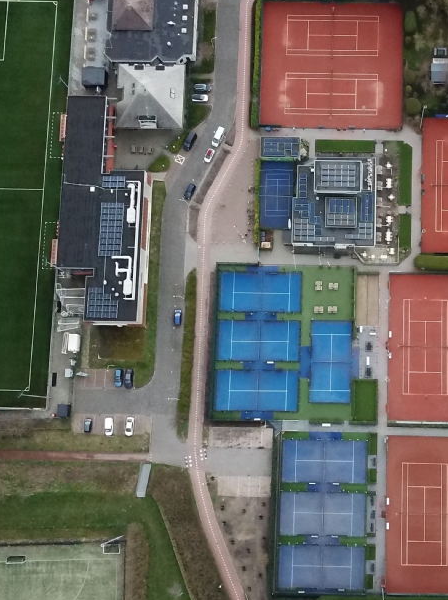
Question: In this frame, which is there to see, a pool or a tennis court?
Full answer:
Of the two, only a tennis court appears.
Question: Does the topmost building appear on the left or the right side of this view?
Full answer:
The topmost building is on the left side of the image.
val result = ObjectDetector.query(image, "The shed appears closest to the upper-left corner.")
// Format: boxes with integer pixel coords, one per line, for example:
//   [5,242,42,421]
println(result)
[83,67,109,90]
